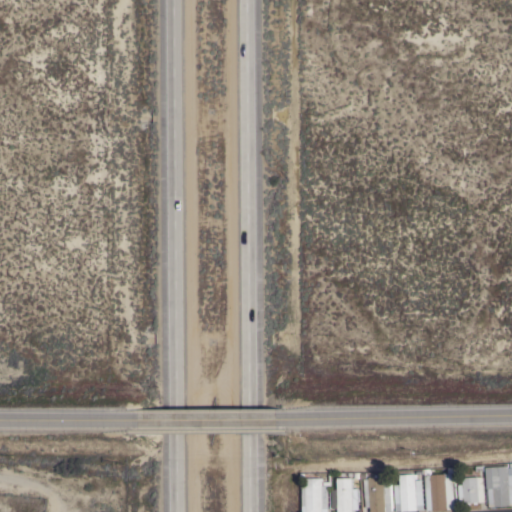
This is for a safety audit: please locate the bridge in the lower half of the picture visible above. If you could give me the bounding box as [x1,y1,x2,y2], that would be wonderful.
[128,408,287,434]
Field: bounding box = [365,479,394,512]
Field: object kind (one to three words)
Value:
house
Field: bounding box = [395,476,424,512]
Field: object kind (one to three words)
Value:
house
